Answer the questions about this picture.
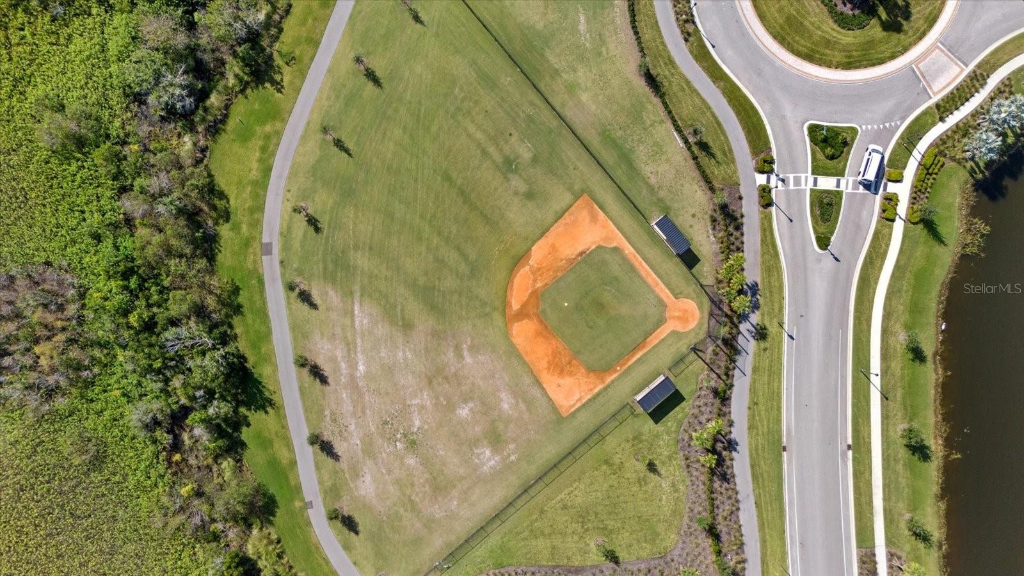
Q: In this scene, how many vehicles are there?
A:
one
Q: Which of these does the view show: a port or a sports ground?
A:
sports ground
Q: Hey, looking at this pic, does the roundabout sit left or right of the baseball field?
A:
to the right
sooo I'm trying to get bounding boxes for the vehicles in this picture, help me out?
[859,143,887,186]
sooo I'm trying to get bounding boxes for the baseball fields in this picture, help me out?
[280,0,710,576]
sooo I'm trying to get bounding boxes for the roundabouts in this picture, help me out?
[698,0,998,121]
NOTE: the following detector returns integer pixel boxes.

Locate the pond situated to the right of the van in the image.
[938,138,1024,576]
